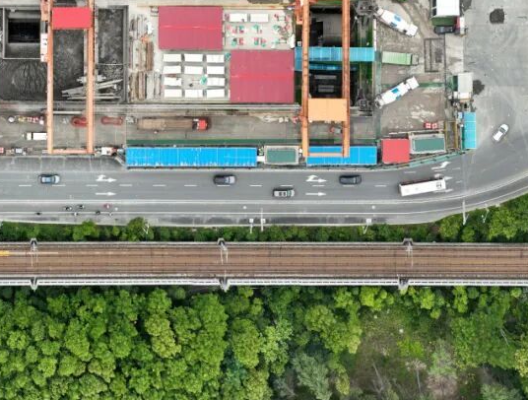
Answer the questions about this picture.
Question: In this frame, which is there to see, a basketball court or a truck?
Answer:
truck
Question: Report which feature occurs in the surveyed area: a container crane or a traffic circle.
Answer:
container crane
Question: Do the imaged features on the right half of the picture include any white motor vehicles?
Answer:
Yes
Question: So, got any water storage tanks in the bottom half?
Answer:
No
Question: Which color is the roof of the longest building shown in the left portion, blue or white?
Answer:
blue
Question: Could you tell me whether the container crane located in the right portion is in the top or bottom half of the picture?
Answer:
top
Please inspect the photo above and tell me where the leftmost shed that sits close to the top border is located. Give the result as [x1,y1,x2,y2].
[157,7,223,50]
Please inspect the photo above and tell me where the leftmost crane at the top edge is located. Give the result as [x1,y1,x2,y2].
[41,0,99,155]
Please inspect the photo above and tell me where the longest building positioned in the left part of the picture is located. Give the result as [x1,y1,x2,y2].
[126,148,258,167]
